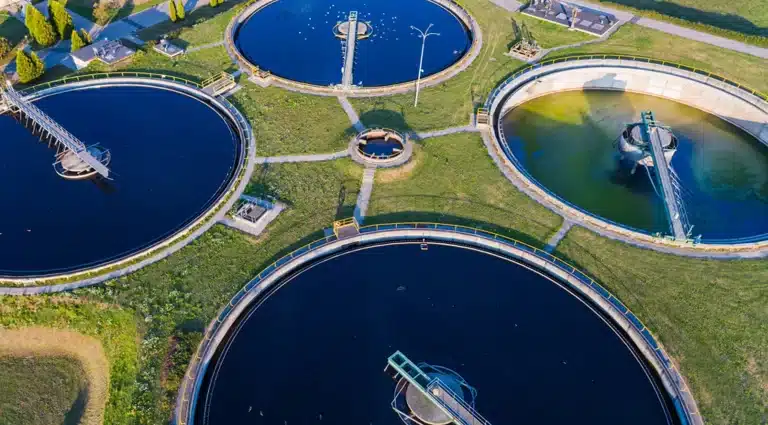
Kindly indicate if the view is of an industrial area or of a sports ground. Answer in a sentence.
This image shows an industrial area.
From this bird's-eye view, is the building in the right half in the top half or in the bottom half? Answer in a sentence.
The building in the right half is in the top half of the image.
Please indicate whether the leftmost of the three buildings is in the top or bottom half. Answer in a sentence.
Seen from above, the leftmost of the three buildings lies in the top half of the view.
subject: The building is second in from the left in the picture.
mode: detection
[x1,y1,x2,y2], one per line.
[152,36,186,60]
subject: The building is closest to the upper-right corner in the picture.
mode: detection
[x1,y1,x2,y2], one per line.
[519,0,617,39]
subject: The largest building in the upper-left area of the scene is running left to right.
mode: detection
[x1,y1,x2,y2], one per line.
[69,37,146,70]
